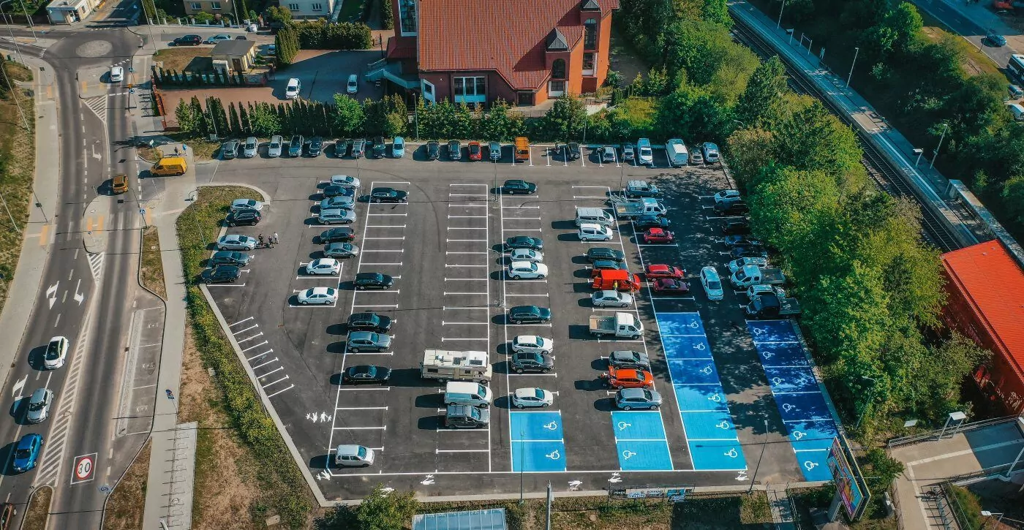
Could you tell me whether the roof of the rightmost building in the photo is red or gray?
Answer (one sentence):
The color of the roof of the rightmost building is red.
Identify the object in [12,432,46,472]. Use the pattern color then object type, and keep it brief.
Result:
blue car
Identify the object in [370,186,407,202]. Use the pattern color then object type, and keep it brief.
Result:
black car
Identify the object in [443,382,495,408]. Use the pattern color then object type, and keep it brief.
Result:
white vehicle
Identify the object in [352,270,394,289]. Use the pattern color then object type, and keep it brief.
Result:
black car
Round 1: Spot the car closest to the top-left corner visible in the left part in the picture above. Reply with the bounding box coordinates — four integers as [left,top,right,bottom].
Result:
[108,67,125,81]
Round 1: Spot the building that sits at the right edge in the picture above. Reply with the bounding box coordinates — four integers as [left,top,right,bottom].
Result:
[942,234,1024,434]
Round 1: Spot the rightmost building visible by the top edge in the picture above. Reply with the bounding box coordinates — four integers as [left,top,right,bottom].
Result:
[365,0,621,108]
